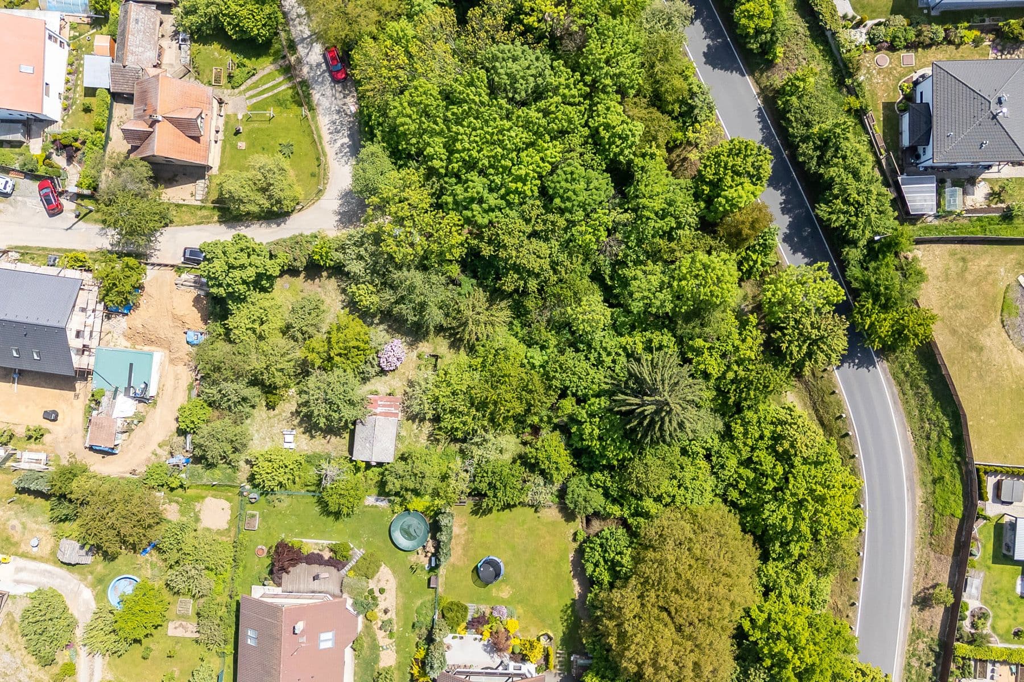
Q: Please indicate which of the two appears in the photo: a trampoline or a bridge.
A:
trampoline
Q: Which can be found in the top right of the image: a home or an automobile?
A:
home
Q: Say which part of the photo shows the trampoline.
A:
bottom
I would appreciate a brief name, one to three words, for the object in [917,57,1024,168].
house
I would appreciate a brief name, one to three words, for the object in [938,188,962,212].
greenhouse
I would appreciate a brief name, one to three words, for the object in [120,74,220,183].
house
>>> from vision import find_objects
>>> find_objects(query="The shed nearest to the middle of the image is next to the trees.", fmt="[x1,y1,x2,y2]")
[352,396,403,461]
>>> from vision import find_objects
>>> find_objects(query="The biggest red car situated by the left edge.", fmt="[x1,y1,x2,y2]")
[35,178,62,216]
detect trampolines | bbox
[474,562,501,593]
